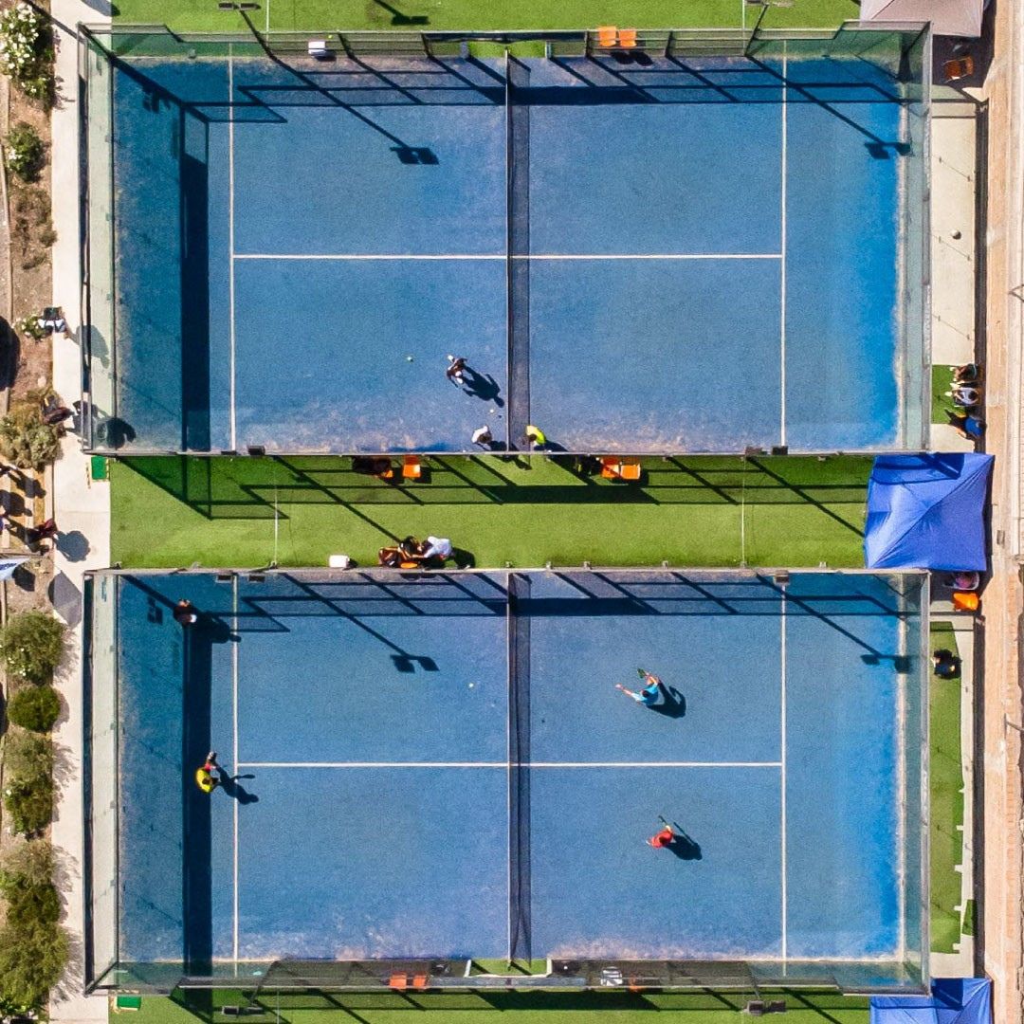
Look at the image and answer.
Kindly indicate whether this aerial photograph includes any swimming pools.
No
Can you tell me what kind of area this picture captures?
sports ground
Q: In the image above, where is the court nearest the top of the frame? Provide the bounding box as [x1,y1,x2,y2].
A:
[112,56,904,452]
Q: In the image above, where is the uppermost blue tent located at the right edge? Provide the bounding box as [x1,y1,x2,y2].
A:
[856,454,994,571]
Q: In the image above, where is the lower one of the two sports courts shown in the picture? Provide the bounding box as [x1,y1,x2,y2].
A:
[115,567,905,962]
